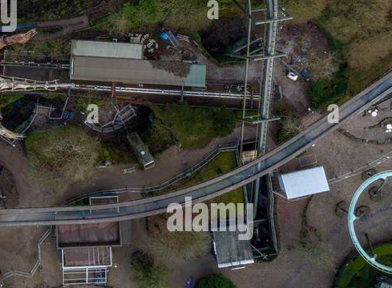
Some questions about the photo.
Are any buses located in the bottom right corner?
No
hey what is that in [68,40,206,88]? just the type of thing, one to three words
shed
